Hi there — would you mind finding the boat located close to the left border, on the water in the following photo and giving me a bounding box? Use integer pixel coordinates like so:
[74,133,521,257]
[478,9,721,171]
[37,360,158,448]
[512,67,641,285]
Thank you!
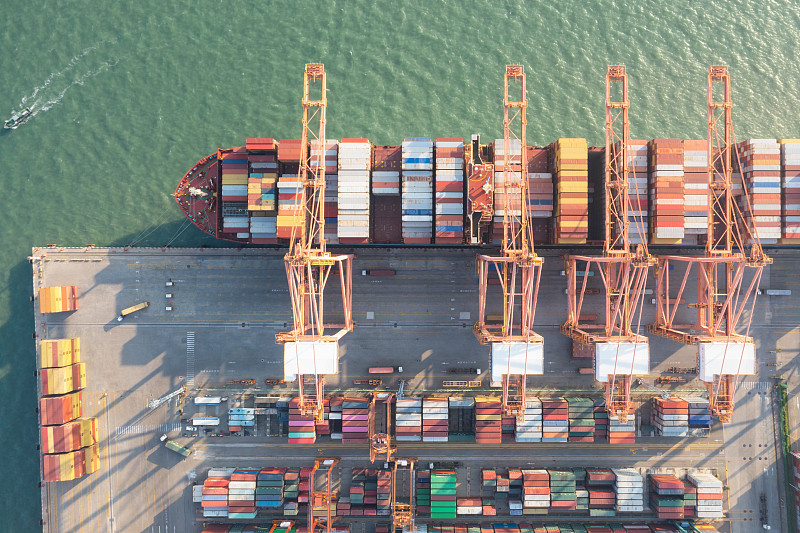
[3,106,30,127]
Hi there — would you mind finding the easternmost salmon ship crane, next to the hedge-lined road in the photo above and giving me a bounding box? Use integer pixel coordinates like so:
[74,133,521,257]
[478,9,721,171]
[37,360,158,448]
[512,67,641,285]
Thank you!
[644,63,779,430]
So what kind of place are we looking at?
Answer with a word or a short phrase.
port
